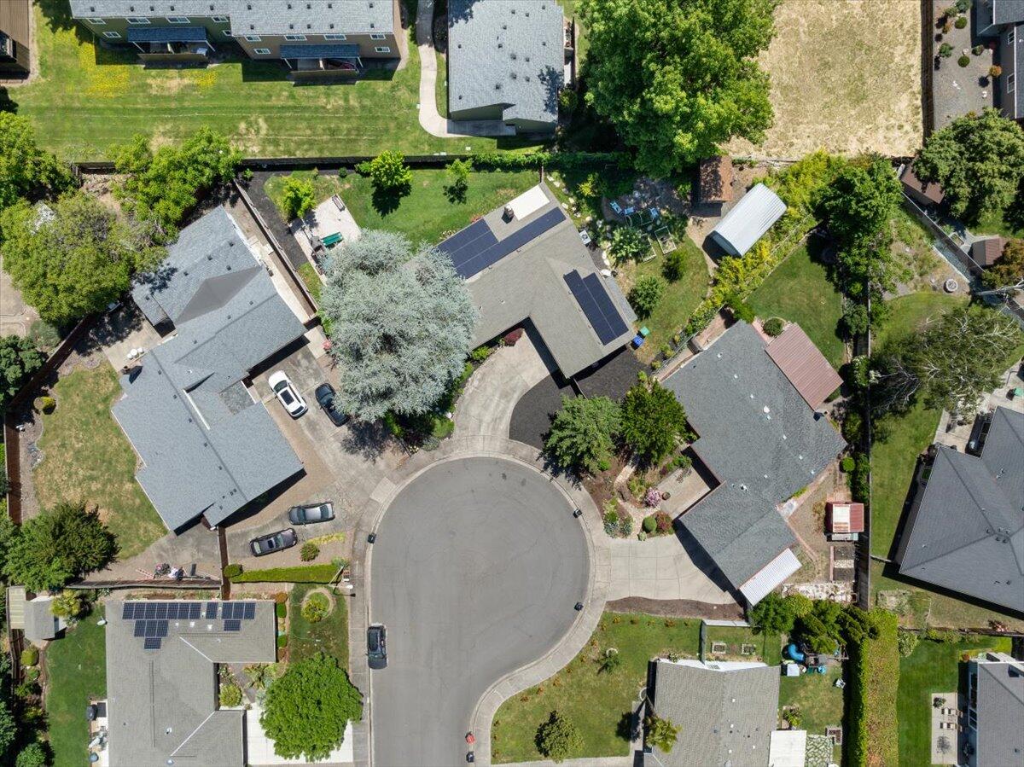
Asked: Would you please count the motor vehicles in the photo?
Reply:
five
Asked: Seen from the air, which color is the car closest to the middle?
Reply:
black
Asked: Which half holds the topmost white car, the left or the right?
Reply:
left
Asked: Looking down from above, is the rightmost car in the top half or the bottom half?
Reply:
bottom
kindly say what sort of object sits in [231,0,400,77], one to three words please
building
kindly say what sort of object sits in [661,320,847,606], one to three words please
house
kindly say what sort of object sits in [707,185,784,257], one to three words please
shed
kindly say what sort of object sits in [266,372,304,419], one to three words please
car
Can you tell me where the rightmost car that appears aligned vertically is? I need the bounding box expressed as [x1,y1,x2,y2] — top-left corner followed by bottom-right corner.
[364,625,387,671]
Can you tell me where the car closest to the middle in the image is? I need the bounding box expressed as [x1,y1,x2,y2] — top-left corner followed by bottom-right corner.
[313,381,349,429]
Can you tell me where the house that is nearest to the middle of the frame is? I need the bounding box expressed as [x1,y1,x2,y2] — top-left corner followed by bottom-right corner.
[439,180,638,379]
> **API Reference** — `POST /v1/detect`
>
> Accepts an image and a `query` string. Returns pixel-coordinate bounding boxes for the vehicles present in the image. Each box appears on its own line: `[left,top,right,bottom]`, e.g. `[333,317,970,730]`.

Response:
[286,502,335,527]
[313,381,349,429]
[266,372,304,419]
[246,530,298,558]
[364,625,387,671]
